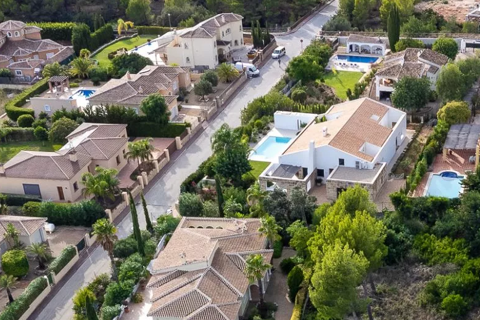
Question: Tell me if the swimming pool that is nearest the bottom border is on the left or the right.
right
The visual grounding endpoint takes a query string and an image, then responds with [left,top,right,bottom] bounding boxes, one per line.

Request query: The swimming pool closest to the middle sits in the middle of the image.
[251,135,291,158]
